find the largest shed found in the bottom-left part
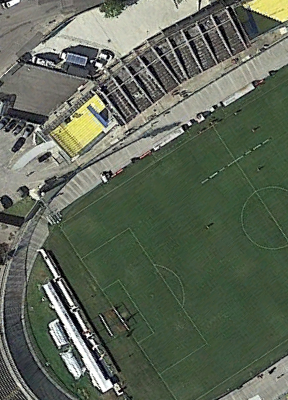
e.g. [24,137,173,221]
[43,283,111,391]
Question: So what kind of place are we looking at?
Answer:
sports ground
